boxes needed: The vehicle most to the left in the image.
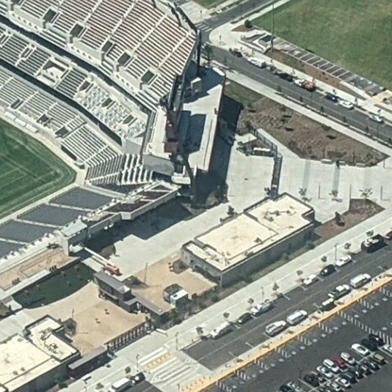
[110,375,132,391]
